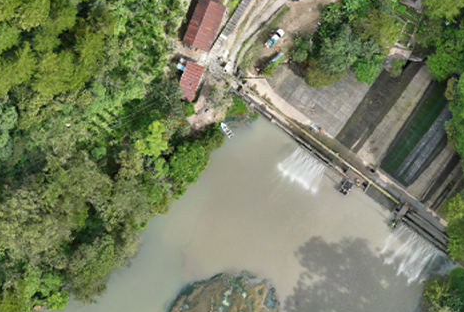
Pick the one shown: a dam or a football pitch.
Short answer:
dam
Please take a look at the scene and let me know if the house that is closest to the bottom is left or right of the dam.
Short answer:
left of it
